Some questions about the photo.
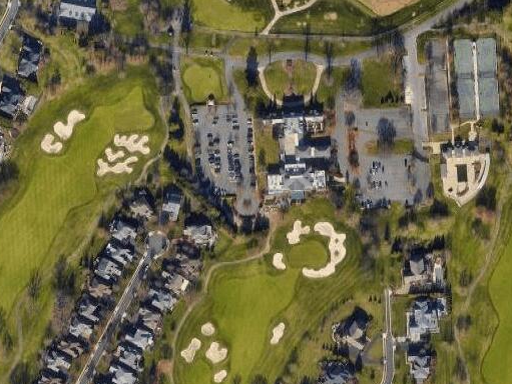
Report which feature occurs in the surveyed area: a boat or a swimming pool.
swimming pool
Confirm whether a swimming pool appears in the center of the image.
No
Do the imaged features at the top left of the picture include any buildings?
Yes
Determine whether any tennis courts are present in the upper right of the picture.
Yes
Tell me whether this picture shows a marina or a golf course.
golf course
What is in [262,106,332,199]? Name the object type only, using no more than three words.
building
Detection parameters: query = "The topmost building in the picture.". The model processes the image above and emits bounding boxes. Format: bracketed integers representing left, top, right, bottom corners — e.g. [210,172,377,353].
[58,0,99,21]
